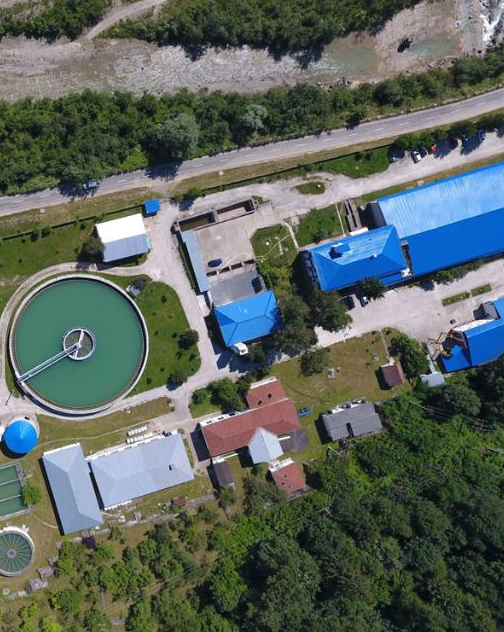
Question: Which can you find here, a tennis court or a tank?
tank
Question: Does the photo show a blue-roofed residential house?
Yes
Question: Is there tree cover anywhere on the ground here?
Yes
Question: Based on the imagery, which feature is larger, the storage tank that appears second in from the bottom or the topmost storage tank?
the topmost storage tank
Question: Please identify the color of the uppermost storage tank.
green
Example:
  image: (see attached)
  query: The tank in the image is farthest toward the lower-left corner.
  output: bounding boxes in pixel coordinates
[0,526,34,575]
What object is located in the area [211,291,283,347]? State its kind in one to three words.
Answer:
house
